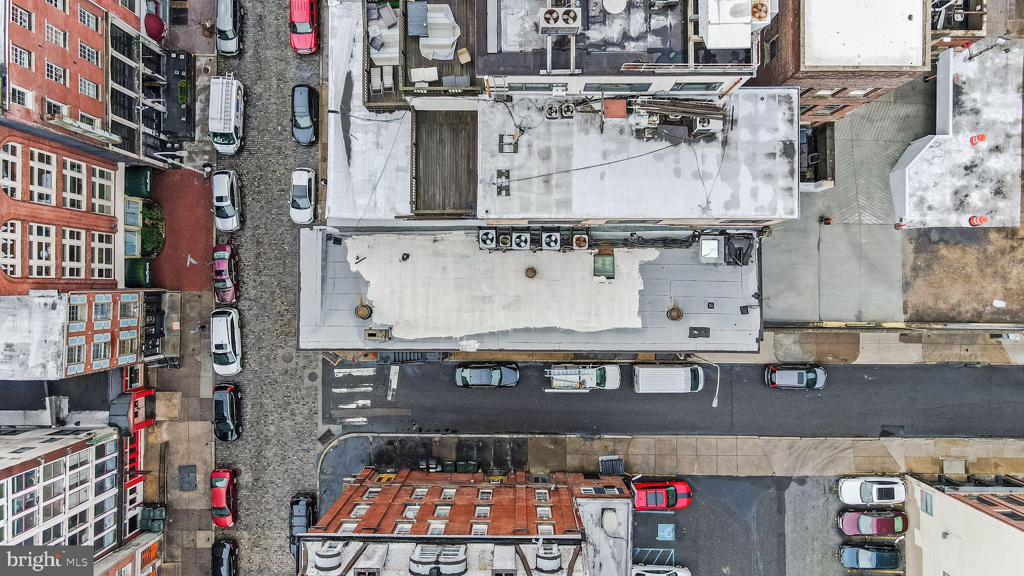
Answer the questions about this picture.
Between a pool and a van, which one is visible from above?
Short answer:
van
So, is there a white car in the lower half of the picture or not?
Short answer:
Yes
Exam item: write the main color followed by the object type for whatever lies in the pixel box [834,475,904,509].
white car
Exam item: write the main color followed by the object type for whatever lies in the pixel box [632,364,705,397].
white van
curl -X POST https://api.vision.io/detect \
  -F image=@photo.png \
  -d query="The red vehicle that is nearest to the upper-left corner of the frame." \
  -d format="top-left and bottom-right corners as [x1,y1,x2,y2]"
[285,0,318,56]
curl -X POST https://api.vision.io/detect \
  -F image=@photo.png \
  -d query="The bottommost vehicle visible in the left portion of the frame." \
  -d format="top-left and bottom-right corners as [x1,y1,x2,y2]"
[210,539,241,576]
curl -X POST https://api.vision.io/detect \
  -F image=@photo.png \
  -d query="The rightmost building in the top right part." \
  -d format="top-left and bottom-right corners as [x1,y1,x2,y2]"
[886,41,1023,230]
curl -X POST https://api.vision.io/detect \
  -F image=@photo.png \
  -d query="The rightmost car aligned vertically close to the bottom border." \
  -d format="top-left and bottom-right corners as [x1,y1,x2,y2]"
[286,494,318,557]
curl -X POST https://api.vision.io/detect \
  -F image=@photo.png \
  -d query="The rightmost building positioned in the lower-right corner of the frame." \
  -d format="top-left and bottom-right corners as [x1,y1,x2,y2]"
[905,475,1024,576]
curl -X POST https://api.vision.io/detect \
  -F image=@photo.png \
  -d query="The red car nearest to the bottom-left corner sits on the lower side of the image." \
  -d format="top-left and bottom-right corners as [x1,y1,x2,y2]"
[206,467,238,527]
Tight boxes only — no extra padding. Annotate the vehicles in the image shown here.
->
[211,0,245,59]
[286,82,318,146]
[209,381,243,442]
[285,0,318,56]
[210,75,248,155]
[286,494,318,557]
[286,163,317,224]
[630,481,691,515]
[206,467,238,527]
[838,508,908,539]
[454,361,519,391]
[632,364,705,397]
[208,306,243,376]
[834,475,904,509]
[547,363,622,395]
[838,541,903,573]
[634,563,689,576]
[763,362,826,393]
[208,167,241,232]
[210,539,241,576]
[207,242,238,303]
